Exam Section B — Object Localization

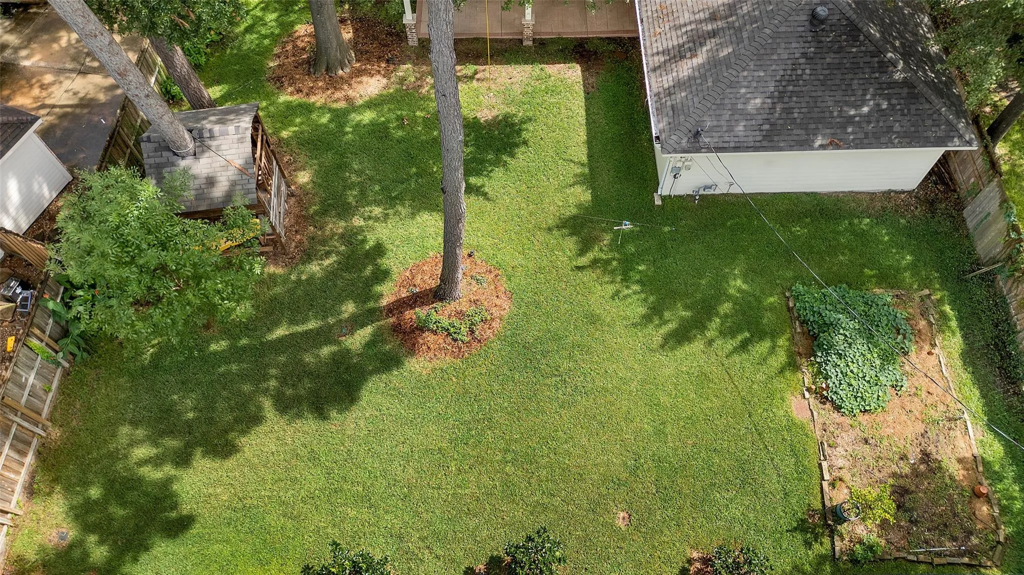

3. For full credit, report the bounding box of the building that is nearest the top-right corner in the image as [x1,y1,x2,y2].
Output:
[631,0,983,198]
